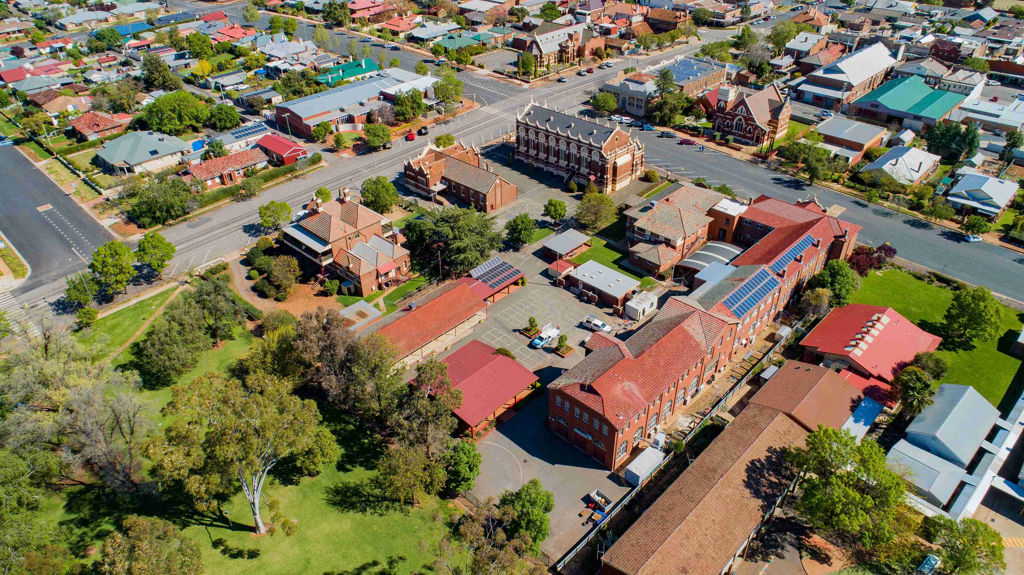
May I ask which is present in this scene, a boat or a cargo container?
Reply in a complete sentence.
Visible in the photo is a cargo container.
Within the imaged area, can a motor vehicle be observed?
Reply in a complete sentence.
Yes, the image includes a motor vehicle.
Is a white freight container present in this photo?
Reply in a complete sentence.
Yes, the frame does contain a white freight container.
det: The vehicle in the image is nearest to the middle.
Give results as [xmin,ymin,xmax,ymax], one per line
[534,326,558,346]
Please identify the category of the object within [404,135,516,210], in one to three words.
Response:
building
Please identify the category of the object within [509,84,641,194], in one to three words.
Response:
building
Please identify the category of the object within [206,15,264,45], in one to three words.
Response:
house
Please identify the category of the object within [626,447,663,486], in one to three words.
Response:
shipping container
